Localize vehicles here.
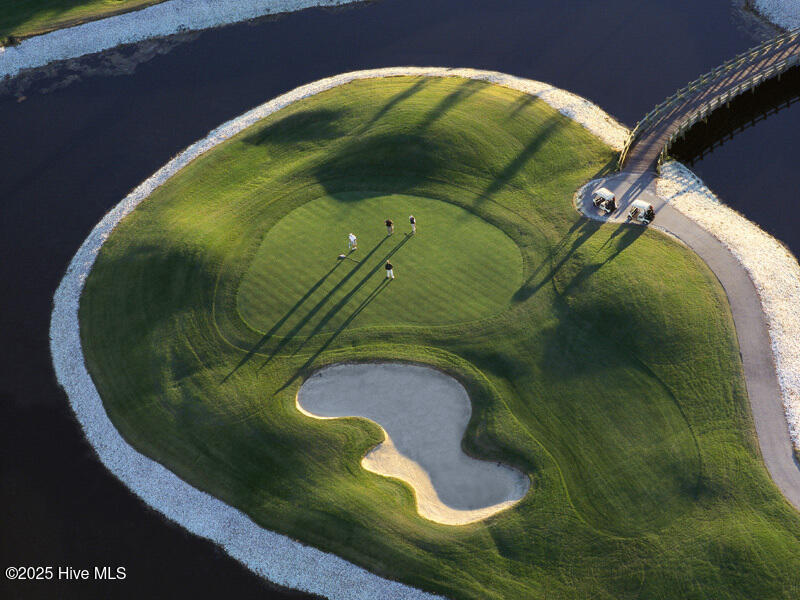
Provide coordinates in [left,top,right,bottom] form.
[627,200,653,224]
[591,188,617,212]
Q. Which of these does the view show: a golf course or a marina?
golf course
